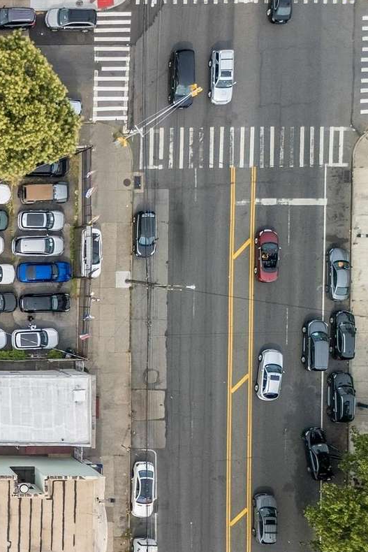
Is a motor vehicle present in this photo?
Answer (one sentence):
Yes, looking at the shot, I can spot a motor vehicle.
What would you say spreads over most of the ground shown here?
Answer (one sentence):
The scene is dominated by paved ground.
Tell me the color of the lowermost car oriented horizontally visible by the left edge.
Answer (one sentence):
From above, the lowermost car oriented horizontally visible by the left edge appears white.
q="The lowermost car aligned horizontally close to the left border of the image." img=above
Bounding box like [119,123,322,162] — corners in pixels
[10,327,58,351]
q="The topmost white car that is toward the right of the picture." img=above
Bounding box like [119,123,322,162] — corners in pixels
[206,49,237,107]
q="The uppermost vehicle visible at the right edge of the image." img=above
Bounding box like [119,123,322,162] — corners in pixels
[322,248,353,301]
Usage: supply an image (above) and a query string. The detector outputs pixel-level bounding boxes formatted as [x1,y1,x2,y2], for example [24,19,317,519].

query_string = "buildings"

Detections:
[0,459,115,552]
[0,357,100,458]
